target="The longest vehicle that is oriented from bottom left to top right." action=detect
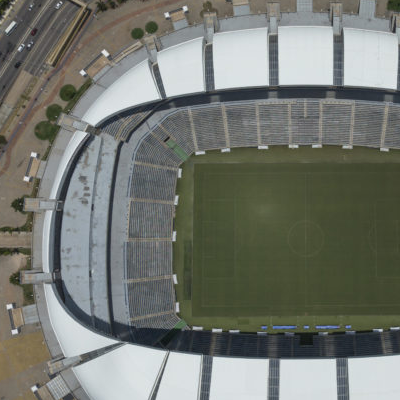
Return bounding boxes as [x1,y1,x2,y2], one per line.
[3,19,20,38]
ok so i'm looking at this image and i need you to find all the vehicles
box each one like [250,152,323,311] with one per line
[17,44,25,53]
[28,3,35,12]
[30,28,38,36]
[14,61,22,70]
[26,41,34,50]
[55,1,63,10]
[3,19,20,38]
